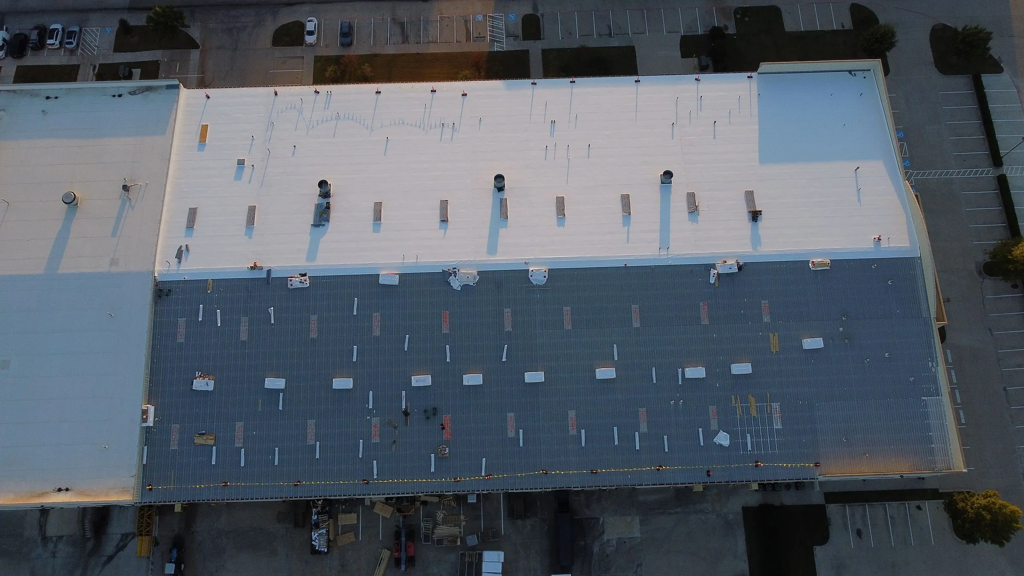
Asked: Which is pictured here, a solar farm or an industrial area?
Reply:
industrial area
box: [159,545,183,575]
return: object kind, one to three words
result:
work vehicle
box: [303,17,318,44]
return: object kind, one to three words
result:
car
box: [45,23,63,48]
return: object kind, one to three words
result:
car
